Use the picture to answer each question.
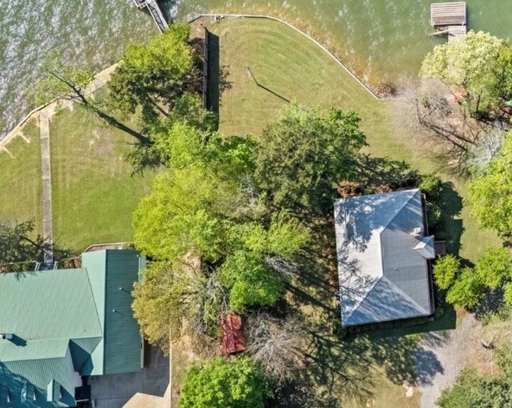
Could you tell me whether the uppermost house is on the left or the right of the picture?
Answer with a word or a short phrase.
right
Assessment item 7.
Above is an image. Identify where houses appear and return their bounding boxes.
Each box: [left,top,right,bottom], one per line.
[0,249,148,408]
[334,188,441,326]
